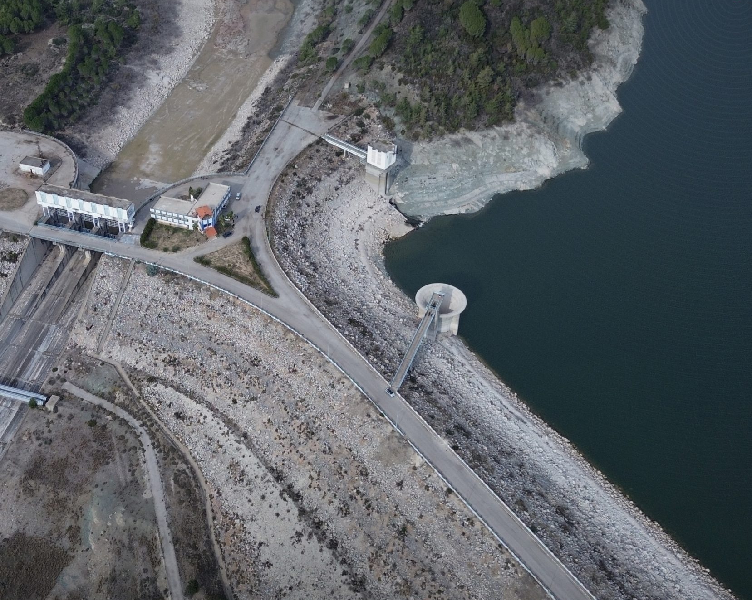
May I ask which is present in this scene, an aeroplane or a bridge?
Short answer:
bridge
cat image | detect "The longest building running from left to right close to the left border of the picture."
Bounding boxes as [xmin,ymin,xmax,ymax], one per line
[33,186,137,242]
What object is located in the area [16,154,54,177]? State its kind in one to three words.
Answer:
shed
